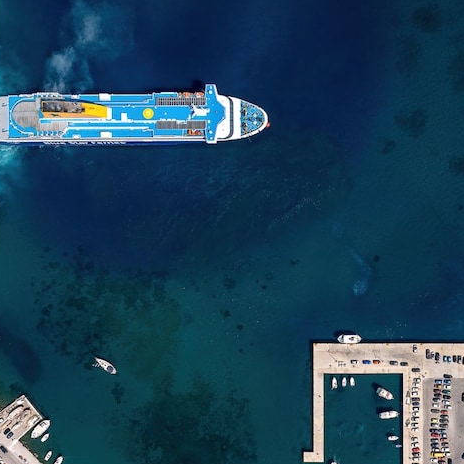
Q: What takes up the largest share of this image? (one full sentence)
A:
The scene is dominated by water.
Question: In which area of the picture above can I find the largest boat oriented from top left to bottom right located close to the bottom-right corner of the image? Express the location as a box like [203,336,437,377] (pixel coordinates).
[376,387,392,400]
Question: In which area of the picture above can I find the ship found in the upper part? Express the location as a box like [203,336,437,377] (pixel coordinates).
[0,83,272,146]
